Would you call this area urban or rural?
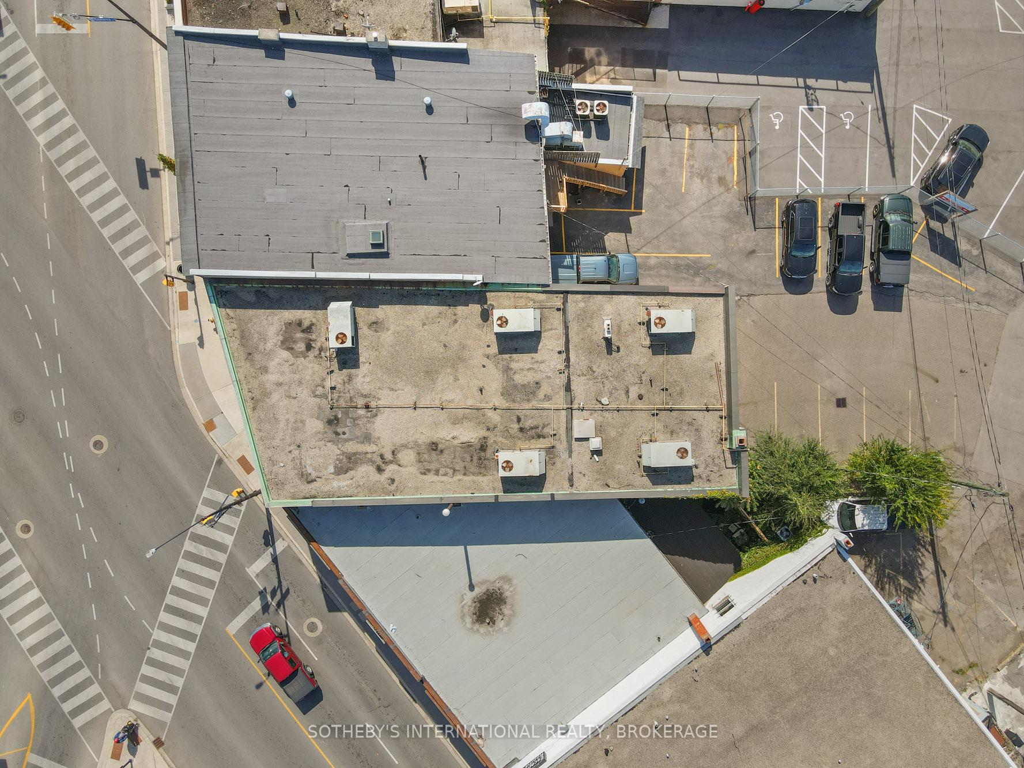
urban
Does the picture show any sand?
No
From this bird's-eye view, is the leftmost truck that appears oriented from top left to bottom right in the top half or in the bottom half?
bottom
